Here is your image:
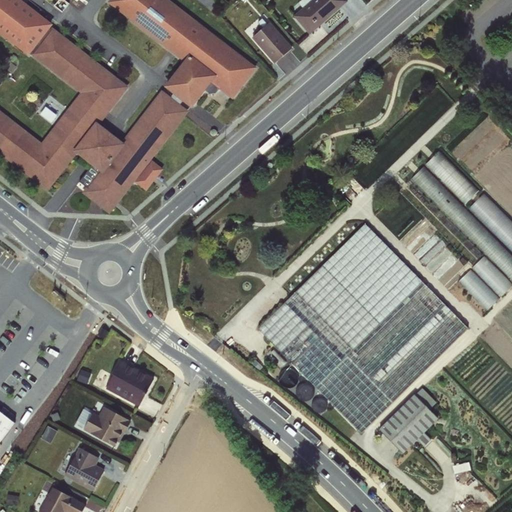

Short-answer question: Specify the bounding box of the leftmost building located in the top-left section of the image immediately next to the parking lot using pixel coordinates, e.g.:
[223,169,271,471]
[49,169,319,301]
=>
[0,24,127,188]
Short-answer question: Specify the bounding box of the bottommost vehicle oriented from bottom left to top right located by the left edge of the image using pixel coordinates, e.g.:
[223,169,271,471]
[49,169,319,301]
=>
[18,407,34,426]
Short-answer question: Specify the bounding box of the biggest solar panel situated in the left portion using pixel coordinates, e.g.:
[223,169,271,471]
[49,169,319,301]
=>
[114,126,161,184]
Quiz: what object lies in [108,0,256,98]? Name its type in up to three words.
building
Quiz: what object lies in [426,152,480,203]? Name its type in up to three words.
greenhouse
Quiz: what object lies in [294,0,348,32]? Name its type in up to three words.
house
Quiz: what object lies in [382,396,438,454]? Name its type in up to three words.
barn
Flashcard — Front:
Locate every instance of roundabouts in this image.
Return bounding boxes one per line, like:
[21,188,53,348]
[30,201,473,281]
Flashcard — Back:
[46,228,164,340]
